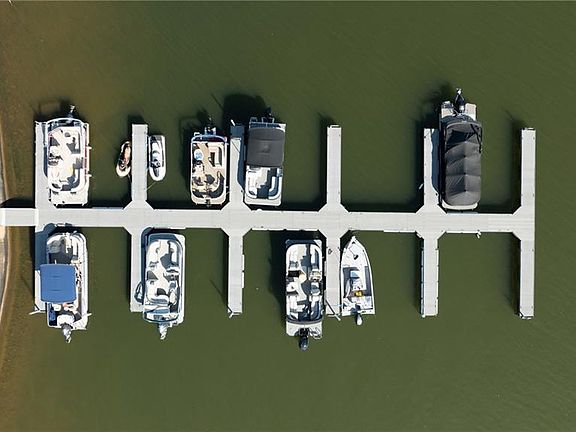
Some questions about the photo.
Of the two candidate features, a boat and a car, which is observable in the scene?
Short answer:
boat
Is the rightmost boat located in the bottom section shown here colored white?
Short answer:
Yes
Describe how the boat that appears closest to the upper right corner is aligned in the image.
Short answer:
up and down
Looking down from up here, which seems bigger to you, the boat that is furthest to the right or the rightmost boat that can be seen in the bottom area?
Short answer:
the boat that is furthest to the right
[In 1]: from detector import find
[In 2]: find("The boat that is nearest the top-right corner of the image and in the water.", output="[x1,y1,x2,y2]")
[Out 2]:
[440,89,484,211]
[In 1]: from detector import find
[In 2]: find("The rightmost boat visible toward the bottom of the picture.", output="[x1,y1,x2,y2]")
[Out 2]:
[340,236,375,325]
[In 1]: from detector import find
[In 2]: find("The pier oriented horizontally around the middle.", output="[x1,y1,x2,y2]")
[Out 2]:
[33,122,536,318]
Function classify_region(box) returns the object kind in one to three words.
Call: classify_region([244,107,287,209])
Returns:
boat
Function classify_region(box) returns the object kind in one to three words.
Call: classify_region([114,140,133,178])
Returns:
boat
